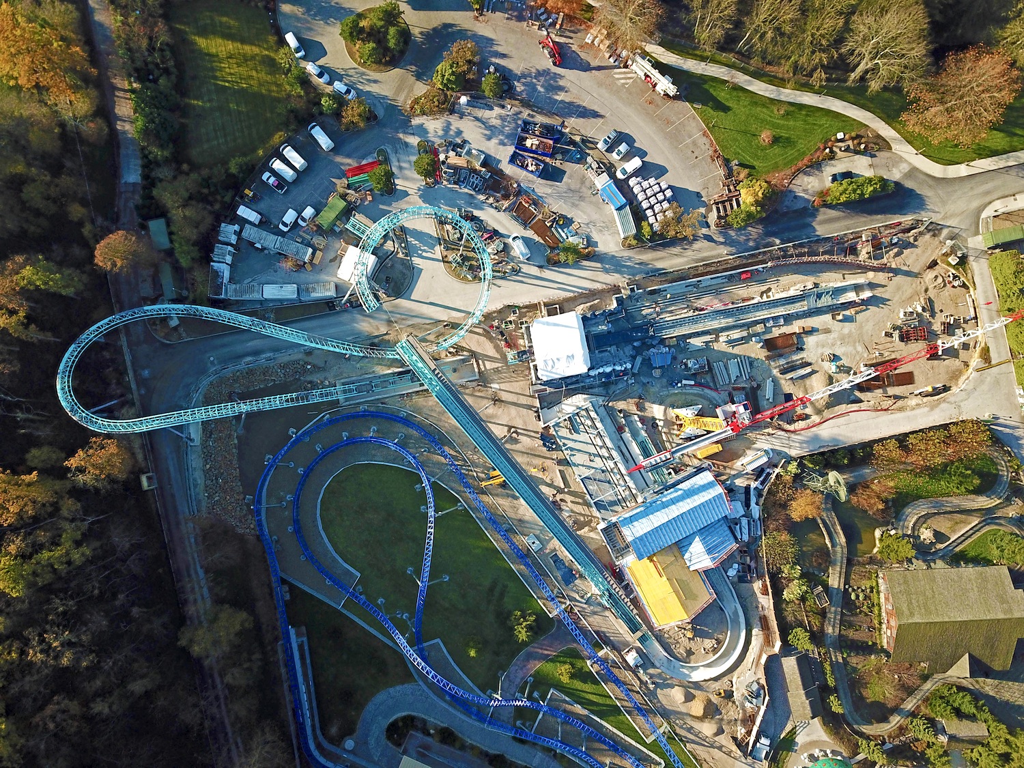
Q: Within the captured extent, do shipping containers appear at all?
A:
Yes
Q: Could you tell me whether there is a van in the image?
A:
Yes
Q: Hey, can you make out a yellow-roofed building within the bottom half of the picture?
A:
Yes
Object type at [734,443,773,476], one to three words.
vehicle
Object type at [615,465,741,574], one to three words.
building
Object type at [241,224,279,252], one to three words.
shipping container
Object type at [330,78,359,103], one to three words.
car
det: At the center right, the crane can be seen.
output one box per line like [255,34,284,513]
[629,309,1024,475]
